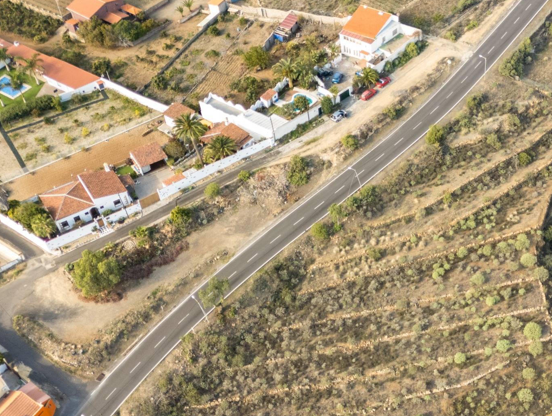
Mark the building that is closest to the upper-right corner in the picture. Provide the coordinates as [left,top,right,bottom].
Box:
[340,3,414,62]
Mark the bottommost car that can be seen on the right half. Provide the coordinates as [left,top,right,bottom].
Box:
[327,105,350,123]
